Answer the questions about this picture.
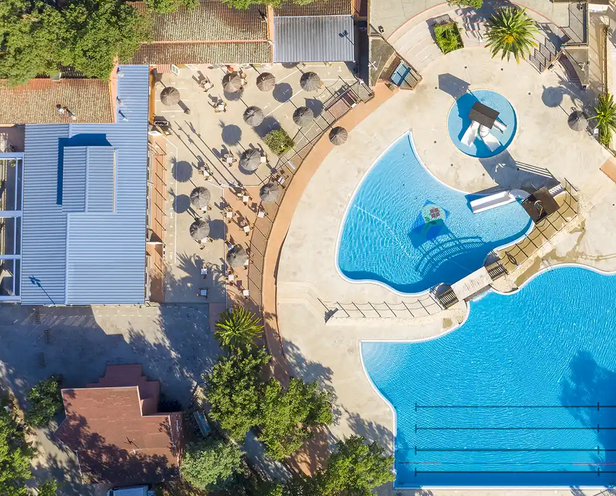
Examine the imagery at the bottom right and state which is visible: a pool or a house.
pool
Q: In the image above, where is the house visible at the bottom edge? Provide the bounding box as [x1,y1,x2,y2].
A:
[53,383,196,485]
